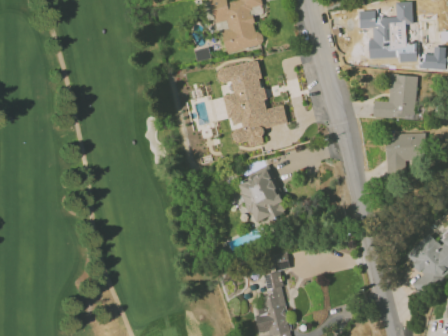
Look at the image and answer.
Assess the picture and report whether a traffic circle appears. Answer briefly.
No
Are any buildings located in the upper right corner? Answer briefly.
Yes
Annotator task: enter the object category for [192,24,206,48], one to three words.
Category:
swimming pool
